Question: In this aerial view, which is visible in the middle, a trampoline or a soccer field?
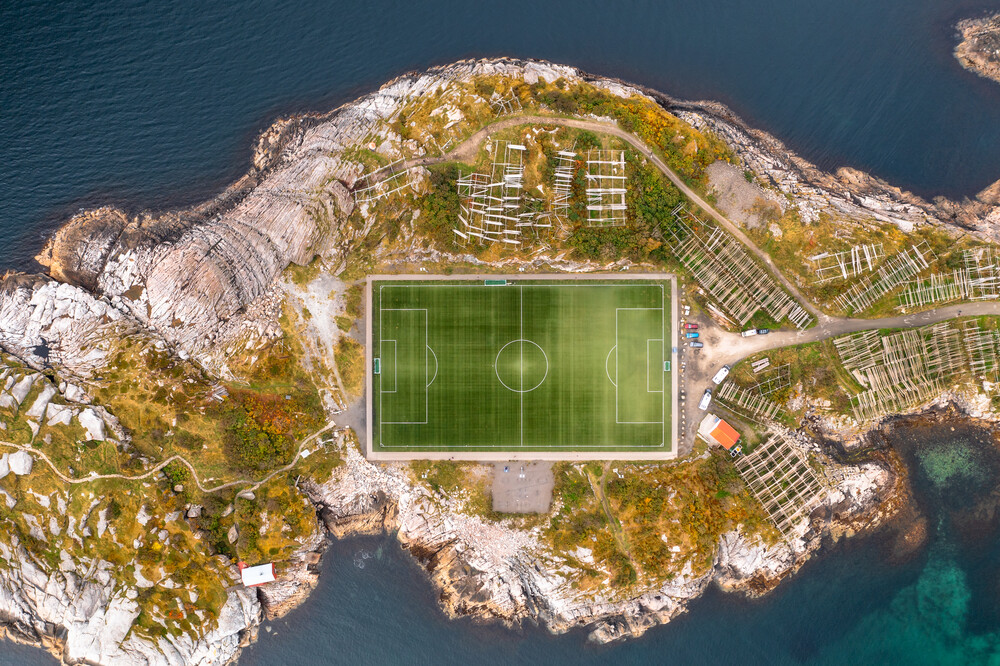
soccer field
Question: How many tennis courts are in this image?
zero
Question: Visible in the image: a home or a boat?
home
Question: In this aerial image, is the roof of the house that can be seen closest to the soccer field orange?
Yes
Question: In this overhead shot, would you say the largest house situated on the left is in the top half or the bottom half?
bottom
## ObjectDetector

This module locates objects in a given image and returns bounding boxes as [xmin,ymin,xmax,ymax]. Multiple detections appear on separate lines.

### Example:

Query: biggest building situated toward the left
[242,561,279,586]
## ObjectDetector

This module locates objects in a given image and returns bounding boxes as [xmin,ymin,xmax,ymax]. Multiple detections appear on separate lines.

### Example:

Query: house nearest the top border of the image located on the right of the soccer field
[708,419,740,450]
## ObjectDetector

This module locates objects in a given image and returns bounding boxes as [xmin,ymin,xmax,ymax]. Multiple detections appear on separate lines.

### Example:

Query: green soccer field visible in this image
[368,275,677,460]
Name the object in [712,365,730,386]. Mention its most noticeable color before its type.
white vehicle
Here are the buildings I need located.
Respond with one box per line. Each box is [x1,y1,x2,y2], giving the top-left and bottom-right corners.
[708,419,740,450]
[242,561,279,586]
